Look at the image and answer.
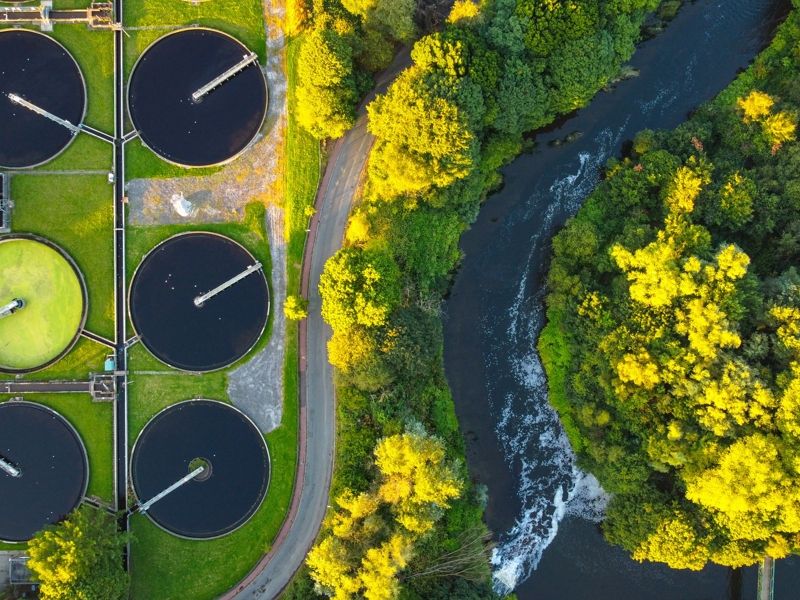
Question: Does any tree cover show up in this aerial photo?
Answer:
Yes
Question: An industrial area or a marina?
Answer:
industrial area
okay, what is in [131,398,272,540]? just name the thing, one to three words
storage tank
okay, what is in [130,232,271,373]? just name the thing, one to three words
storage tank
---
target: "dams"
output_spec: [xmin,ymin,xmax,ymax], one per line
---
[497,455,591,600]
